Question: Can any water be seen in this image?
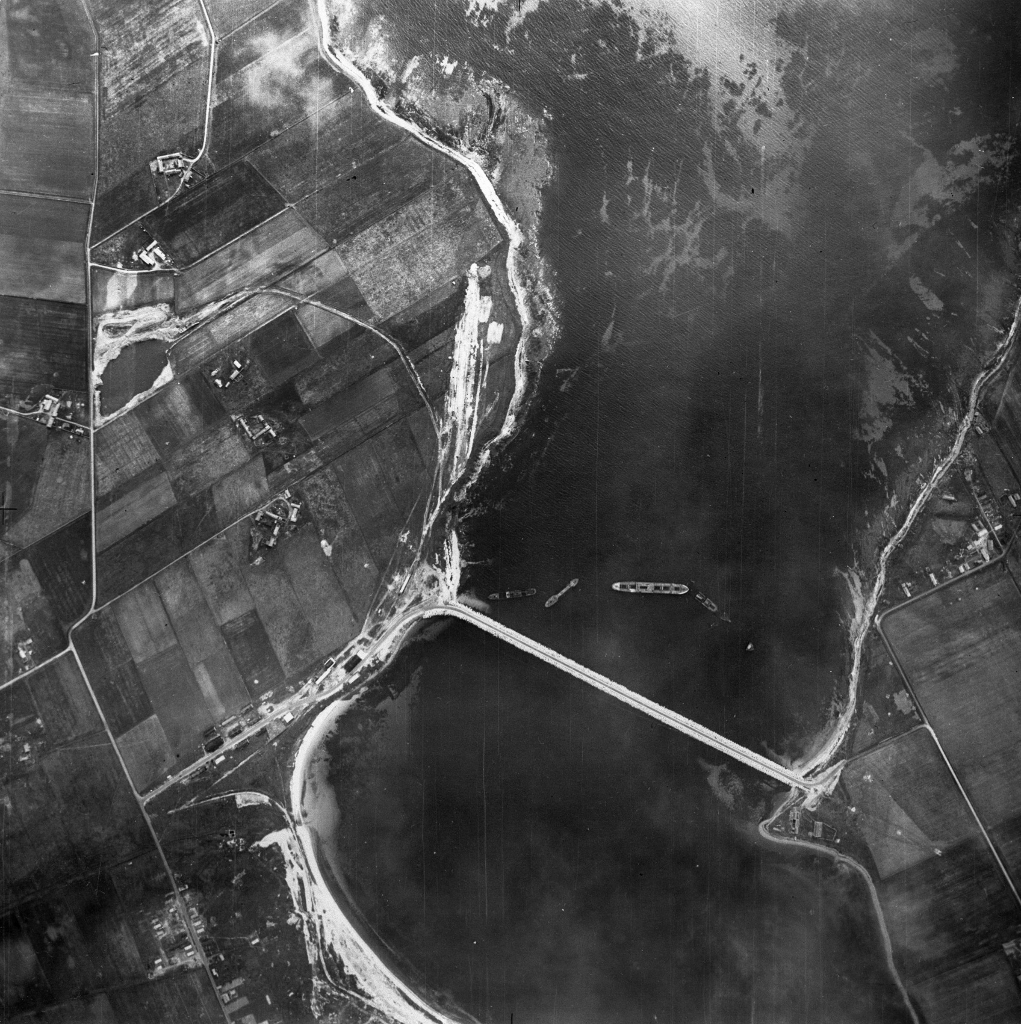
Yes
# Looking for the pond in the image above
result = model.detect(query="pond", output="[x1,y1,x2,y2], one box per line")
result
[96,338,171,416]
